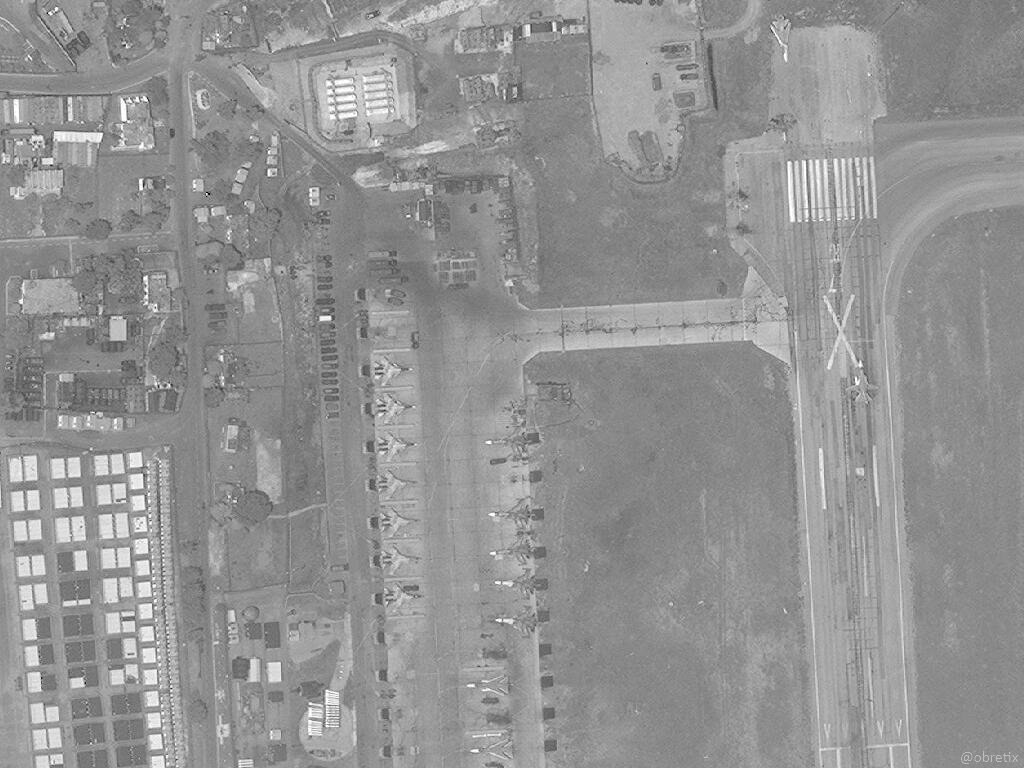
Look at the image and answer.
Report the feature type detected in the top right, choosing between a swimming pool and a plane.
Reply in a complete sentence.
The feature located in the top right is a plane.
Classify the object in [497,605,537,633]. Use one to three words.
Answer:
airplane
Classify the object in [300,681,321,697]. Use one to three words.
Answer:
tent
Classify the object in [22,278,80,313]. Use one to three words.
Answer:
house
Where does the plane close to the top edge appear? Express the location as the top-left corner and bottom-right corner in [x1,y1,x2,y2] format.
[771,16,792,59]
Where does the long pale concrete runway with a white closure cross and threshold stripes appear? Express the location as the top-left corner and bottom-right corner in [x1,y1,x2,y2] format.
[724,24,921,768]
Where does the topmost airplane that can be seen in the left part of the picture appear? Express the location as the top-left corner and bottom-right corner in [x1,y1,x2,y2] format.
[372,356,412,384]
